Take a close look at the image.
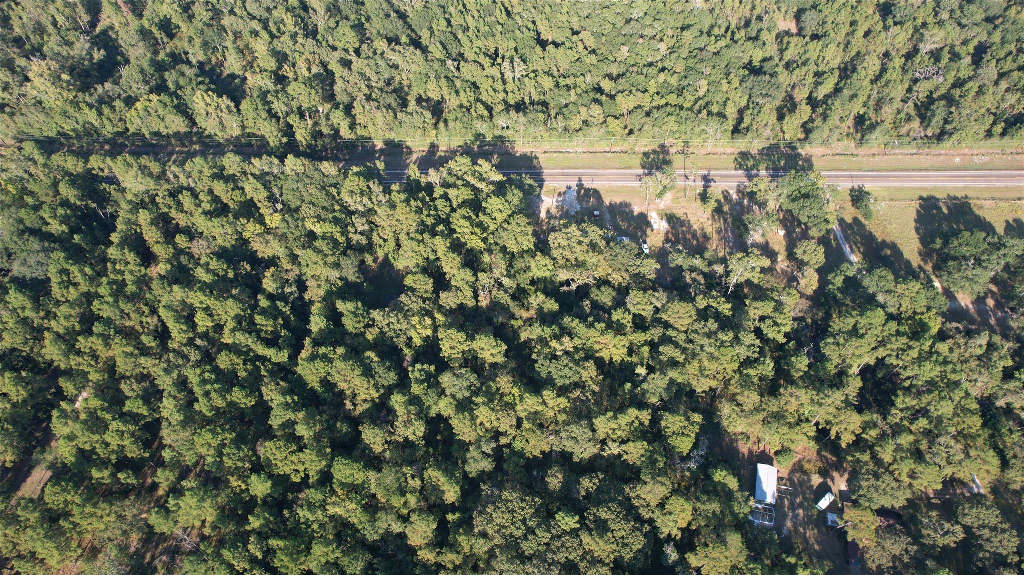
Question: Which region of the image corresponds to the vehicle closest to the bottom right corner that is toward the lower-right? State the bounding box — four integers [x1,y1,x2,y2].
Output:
[815,492,834,511]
